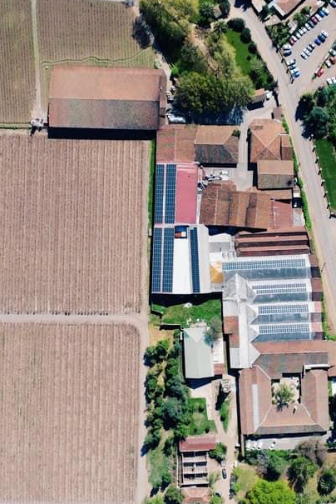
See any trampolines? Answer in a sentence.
No, the frame has no trampoline in it.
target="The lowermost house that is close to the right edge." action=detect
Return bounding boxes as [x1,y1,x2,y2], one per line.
[240,339,336,435]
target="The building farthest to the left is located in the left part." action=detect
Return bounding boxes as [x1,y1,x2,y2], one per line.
[47,66,167,131]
